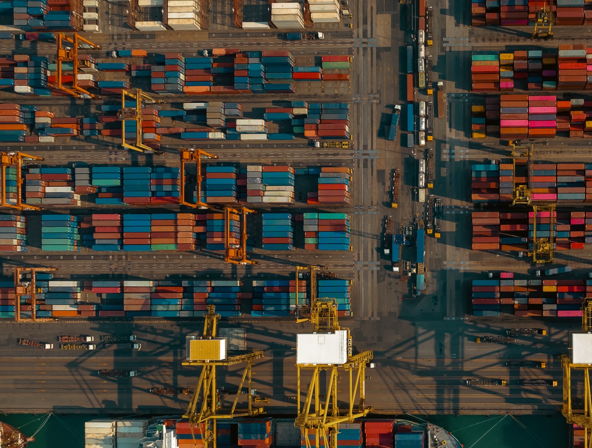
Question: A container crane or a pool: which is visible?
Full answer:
I can see a container crane in this picture.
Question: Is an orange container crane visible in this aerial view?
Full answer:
Yes, the image includes an orange container crane.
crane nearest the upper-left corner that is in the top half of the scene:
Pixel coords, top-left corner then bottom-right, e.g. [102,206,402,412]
[54,32,103,98]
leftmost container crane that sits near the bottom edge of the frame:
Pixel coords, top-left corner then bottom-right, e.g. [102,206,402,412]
[183,301,269,448]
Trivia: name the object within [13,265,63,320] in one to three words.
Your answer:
container crane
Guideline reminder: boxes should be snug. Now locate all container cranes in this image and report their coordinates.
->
[54,32,103,98]
[0,149,50,210]
[294,264,327,322]
[13,265,63,320]
[121,90,163,153]
[224,207,262,264]
[528,206,557,264]
[550,294,592,448]
[183,301,269,448]
[179,147,219,209]
[508,147,536,207]
[297,295,377,448]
